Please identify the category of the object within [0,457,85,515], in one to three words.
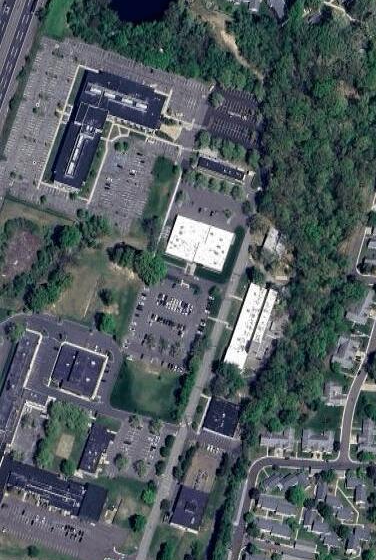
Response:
building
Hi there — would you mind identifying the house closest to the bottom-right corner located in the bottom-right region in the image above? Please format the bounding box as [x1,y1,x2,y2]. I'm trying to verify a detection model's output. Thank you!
[345,523,371,555]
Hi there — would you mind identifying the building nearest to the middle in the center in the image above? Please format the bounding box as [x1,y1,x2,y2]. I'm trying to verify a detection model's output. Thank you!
[166,215,235,274]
